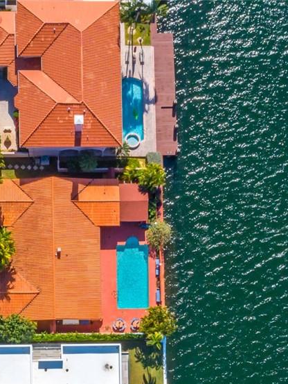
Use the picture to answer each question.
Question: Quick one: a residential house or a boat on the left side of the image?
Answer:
residential house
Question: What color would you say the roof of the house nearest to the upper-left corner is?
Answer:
orange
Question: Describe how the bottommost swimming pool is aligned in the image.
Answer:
vertically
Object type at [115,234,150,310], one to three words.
swimming pool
